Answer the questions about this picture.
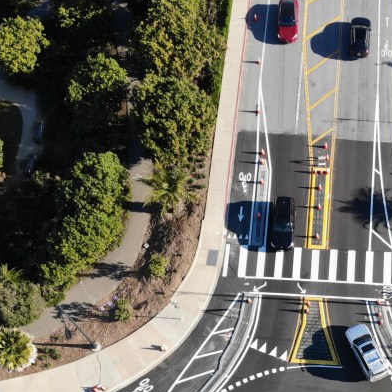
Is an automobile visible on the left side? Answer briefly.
No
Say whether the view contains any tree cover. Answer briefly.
Yes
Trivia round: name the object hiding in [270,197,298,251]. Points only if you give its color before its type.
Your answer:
black car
